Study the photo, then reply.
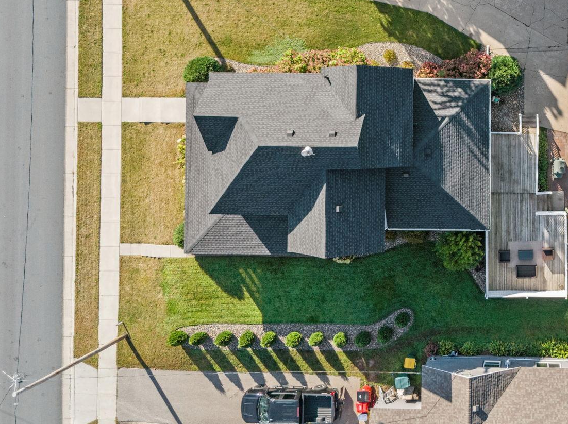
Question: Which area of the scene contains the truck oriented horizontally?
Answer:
bottom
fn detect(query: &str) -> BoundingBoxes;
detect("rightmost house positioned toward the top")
[186,65,493,259]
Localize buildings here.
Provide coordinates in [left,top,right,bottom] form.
[186,65,493,259]
[369,355,568,424]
